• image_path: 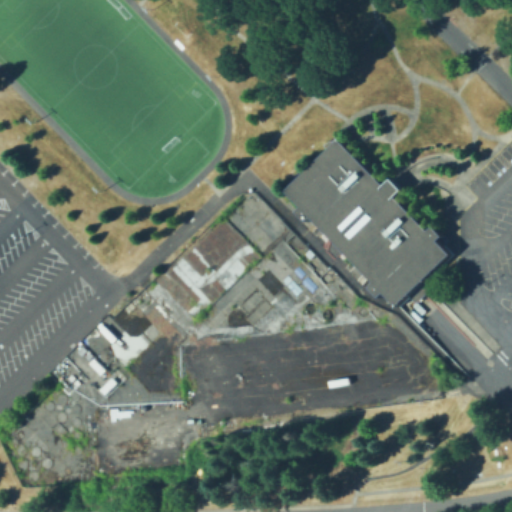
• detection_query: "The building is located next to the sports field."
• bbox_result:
[284,140,450,306]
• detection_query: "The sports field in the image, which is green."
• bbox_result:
[0,0,225,196]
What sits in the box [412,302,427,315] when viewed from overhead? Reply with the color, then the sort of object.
white vehicle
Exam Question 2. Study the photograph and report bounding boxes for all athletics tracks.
[0,0,233,204]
